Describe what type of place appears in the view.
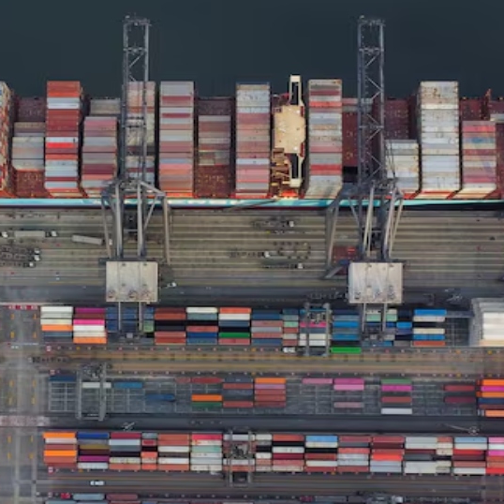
port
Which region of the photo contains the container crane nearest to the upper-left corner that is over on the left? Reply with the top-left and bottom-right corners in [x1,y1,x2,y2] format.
[101,15,173,337]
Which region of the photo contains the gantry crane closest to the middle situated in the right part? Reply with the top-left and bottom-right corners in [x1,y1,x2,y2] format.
[293,300,332,357]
